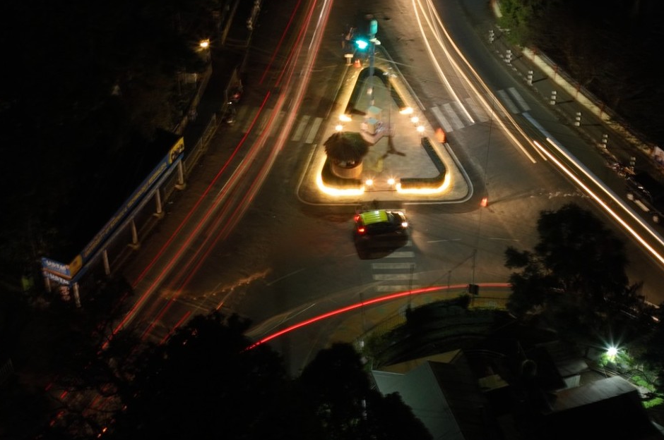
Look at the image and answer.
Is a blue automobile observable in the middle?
No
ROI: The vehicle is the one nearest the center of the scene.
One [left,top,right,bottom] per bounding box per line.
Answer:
[352,204,411,238]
